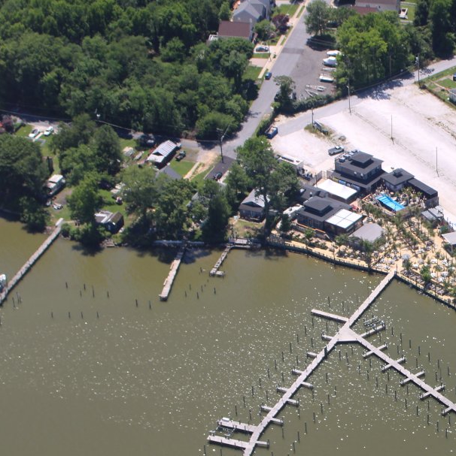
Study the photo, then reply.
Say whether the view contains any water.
Yes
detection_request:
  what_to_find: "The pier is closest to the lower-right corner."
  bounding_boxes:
[349,321,456,420]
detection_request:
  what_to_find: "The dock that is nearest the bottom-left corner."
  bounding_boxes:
[0,222,65,310]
